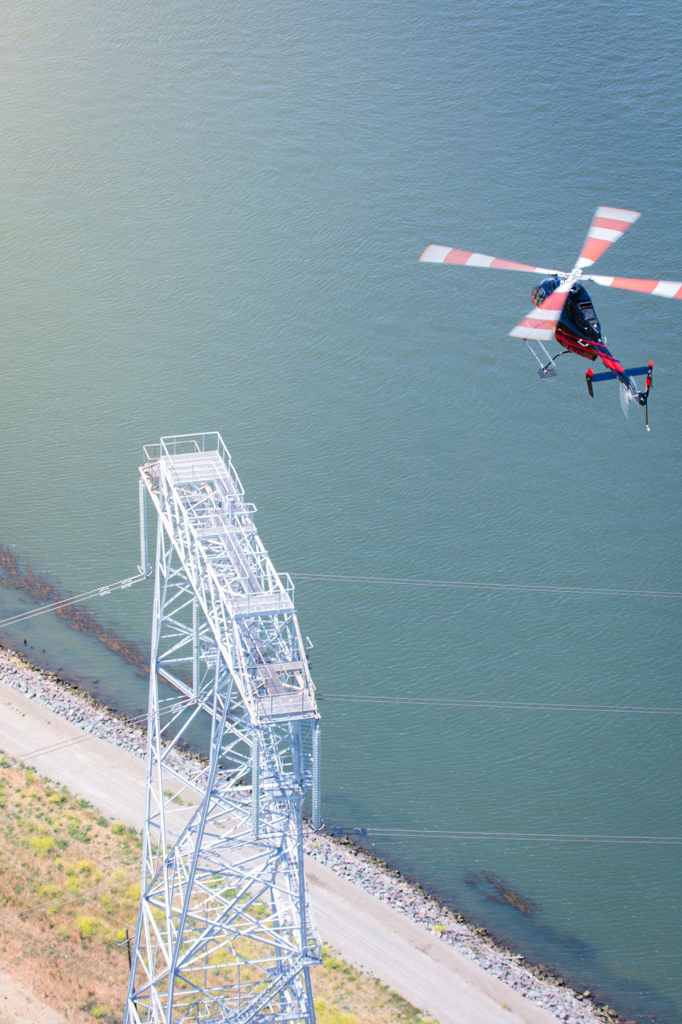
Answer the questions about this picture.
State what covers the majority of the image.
water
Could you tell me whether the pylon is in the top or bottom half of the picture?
bottom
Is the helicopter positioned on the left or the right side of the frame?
right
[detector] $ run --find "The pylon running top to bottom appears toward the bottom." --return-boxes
[119,431,325,1024]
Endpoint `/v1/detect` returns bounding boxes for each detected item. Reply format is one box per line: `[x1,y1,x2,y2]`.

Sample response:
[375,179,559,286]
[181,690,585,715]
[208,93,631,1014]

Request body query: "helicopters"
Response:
[422,207,682,437]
